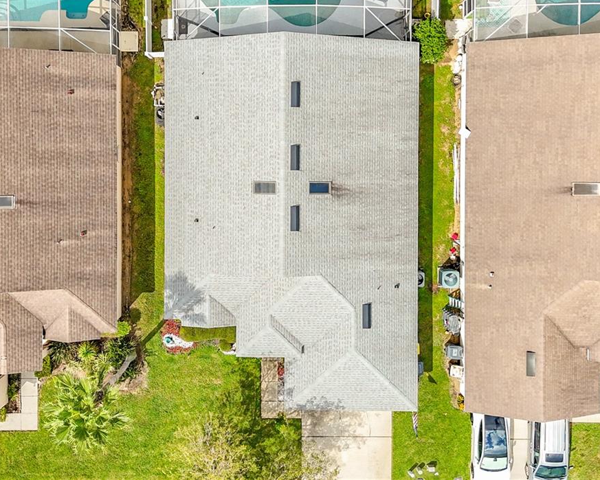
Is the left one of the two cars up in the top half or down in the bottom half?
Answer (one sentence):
It is in the bottom half that the left one of the two cars appears.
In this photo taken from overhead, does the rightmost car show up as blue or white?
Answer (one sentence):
In this view, the rightmost car is white.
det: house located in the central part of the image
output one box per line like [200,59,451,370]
[163,32,420,412]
